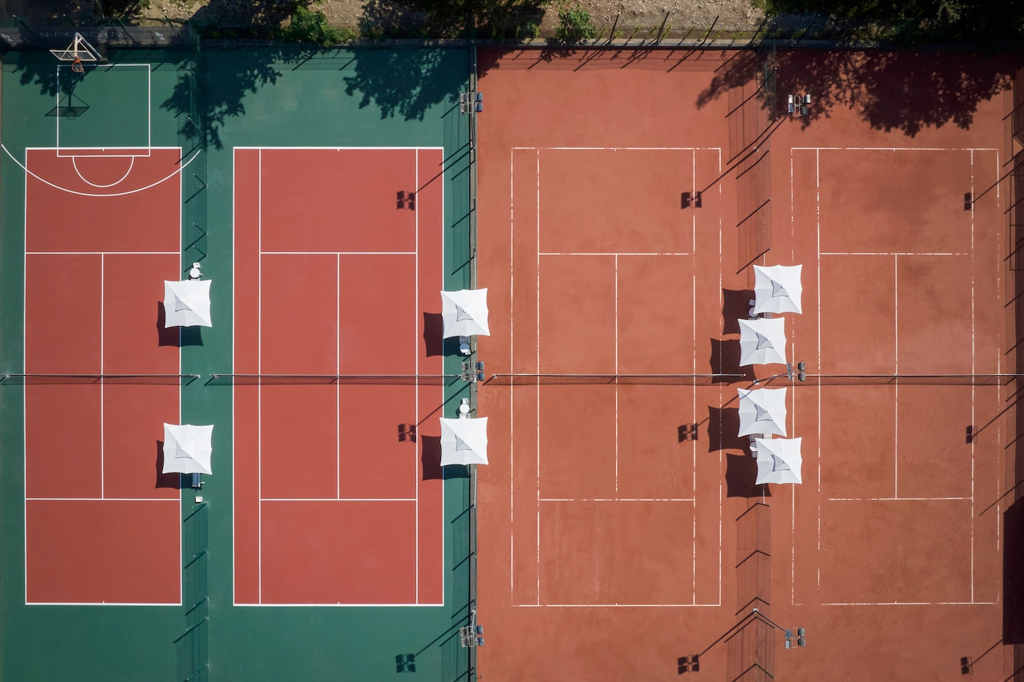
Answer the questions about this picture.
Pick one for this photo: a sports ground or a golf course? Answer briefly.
sports ground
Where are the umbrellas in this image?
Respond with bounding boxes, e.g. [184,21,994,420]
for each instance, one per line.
[738,388,787,437]
[440,417,488,466]
[755,437,802,484]
[753,264,802,314]
[163,423,213,475]
[738,317,786,366]
[164,280,212,328]
[441,288,490,338]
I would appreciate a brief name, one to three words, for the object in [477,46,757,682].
tennis court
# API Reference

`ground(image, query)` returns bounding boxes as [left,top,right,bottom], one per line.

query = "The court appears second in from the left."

[206,46,470,682]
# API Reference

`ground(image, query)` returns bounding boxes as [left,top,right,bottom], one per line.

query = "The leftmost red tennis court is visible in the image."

[2,46,206,682]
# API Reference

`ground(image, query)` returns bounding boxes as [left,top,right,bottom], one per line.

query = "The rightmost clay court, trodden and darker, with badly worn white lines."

[757,46,1024,682]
